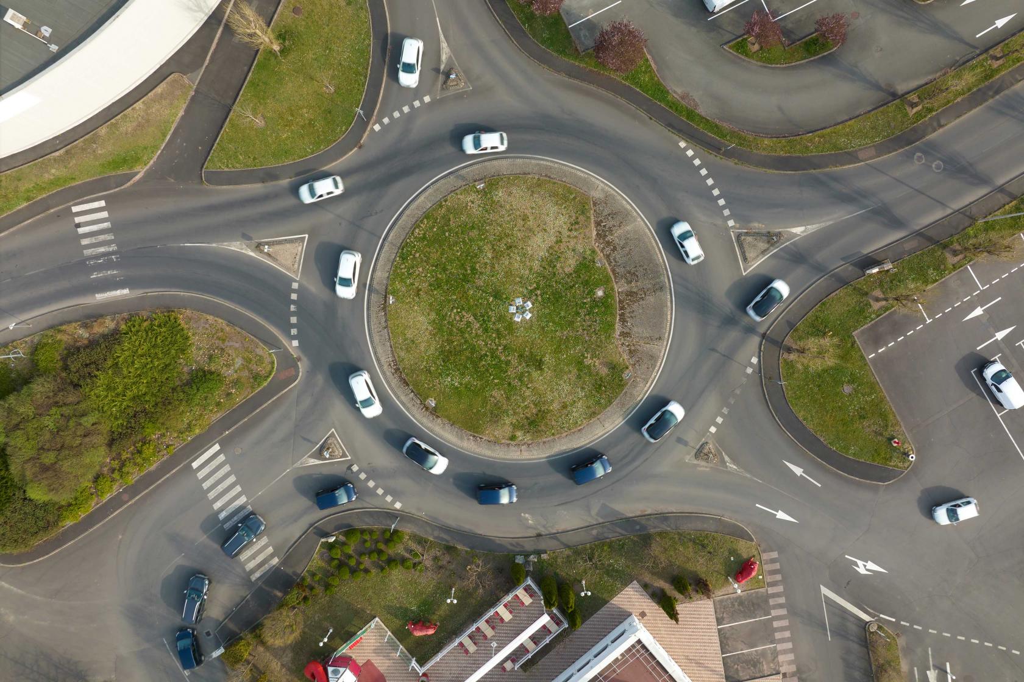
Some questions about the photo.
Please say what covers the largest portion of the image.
paved ground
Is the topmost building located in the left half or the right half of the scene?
left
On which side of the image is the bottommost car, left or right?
left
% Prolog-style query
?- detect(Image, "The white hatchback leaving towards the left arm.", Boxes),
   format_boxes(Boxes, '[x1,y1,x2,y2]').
[298,174,347,205]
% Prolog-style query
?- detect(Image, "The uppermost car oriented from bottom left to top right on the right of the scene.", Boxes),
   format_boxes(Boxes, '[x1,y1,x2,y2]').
[744,280,788,322]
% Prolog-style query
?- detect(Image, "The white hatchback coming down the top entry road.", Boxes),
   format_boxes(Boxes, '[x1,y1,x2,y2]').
[396,38,424,87]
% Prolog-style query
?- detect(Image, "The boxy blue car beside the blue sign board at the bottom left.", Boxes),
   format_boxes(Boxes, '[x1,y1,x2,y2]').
[174,626,207,673]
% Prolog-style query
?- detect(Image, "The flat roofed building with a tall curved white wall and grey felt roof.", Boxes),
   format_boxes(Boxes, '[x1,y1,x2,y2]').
[0,0,219,157]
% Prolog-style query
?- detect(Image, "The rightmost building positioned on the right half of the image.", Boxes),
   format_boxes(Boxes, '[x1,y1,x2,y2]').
[554,616,689,682]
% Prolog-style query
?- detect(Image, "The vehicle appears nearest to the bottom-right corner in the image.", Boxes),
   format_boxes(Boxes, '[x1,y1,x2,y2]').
[927,495,981,526]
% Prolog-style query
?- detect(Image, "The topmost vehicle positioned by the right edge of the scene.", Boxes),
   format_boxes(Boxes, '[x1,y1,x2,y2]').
[980,364,1024,413]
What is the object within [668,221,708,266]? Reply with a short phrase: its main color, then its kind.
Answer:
white car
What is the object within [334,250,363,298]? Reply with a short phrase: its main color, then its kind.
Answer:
white car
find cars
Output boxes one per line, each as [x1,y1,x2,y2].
[569,454,612,486]
[744,280,788,322]
[334,250,363,298]
[475,482,518,506]
[927,495,981,526]
[174,626,207,673]
[349,370,383,418]
[639,402,684,442]
[403,435,448,474]
[220,513,268,559]
[668,221,708,266]
[461,130,509,156]
[298,174,347,205]
[181,570,214,623]
[396,38,424,87]
[314,480,358,513]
